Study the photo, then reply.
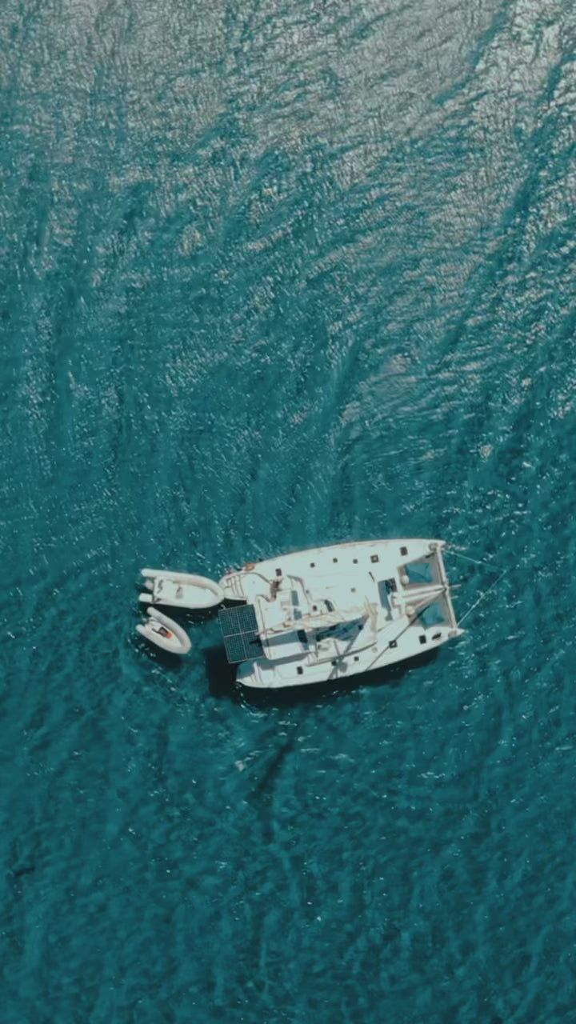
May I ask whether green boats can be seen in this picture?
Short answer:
No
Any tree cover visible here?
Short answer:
No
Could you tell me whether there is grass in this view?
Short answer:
No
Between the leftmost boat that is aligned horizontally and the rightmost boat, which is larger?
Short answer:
the rightmost boat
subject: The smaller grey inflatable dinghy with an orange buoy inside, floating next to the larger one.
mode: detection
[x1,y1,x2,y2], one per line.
[137,607,187,653]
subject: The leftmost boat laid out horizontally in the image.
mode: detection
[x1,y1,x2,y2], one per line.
[142,571,221,609]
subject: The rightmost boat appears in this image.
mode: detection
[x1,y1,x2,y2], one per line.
[218,539,466,689]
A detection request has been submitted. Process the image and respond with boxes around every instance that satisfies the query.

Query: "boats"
[218,539,466,689]
[137,607,187,653]
[142,571,221,609]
